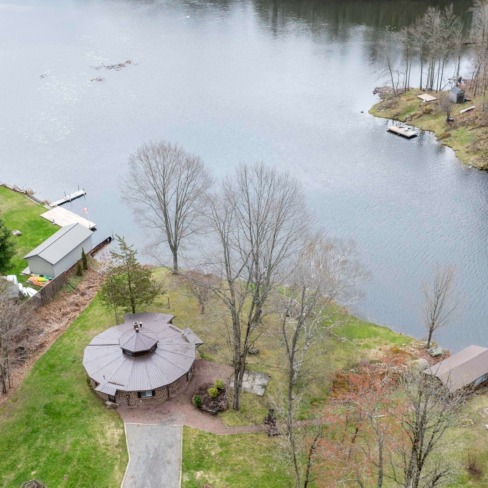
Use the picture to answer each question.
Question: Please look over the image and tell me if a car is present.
No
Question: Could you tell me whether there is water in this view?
Yes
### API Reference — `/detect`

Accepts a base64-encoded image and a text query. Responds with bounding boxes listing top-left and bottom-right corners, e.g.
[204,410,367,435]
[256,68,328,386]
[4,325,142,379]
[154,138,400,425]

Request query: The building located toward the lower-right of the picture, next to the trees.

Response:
[422,345,488,406]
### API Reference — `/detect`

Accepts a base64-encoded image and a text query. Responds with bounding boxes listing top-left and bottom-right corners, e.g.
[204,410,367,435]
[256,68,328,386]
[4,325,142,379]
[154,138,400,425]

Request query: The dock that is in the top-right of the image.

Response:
[387,122,422,140]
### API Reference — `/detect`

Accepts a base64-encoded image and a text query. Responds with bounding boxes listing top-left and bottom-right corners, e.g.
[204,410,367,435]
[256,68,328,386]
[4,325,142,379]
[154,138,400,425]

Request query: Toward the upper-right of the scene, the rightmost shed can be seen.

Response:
[443,82,466,104]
